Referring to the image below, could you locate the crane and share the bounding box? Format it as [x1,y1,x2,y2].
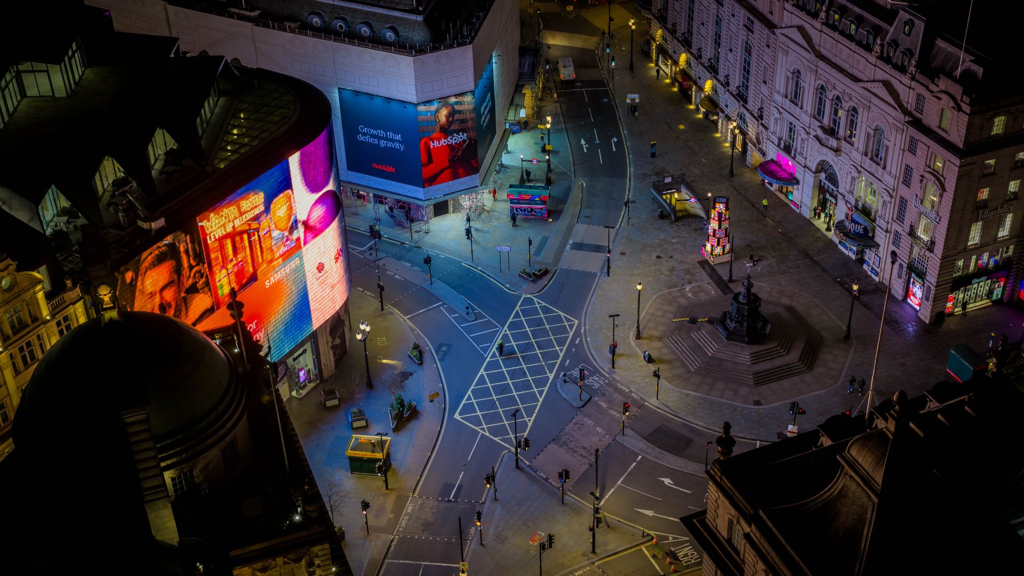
[103,172,164,229]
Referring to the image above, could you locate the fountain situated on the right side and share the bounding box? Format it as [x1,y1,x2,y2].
[663,255,823,384]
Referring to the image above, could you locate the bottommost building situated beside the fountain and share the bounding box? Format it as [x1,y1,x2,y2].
[678,348,1024,576]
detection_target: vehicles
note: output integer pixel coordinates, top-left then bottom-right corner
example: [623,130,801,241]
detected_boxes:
[559,53,574,77]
